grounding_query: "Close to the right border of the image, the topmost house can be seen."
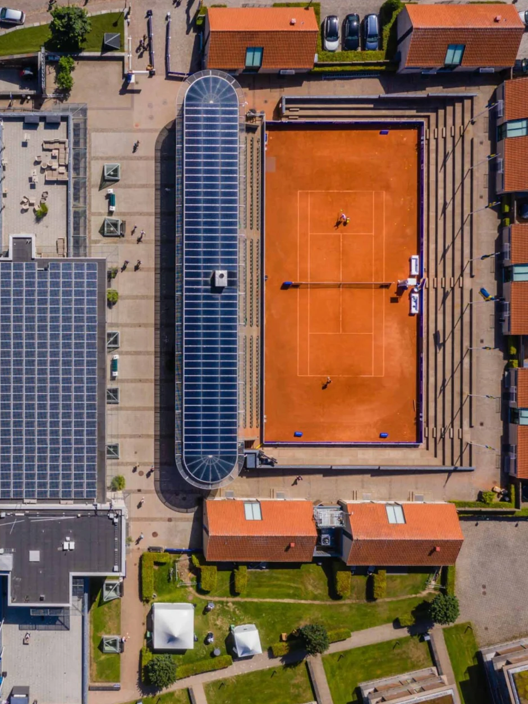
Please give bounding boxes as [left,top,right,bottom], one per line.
[399,4,525,74]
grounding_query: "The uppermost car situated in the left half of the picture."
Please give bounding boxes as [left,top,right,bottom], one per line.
[0,6,25,26]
